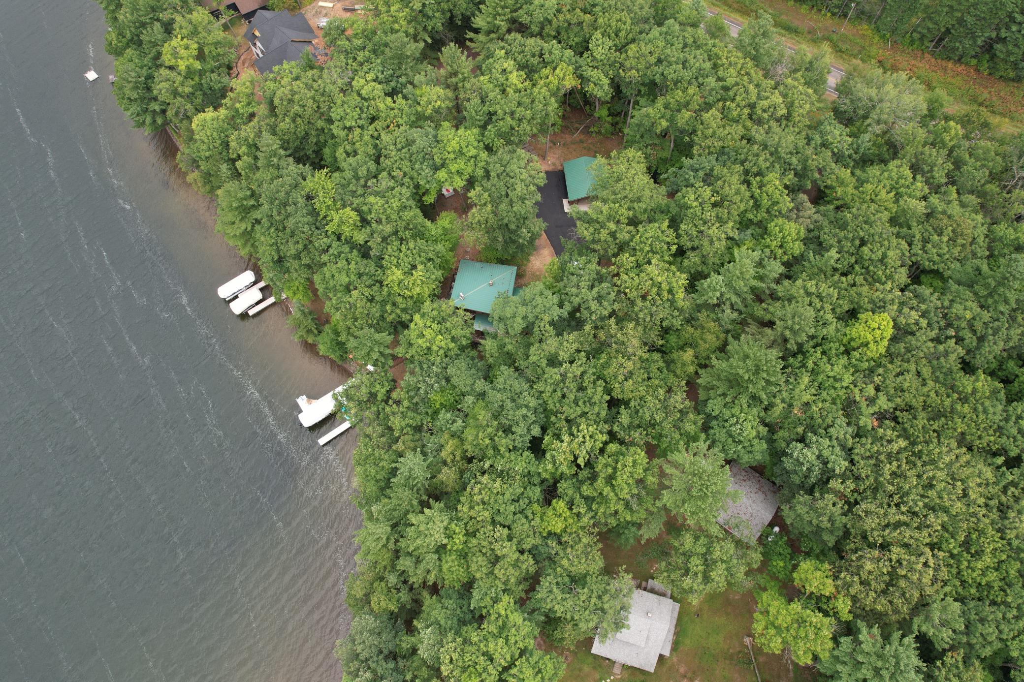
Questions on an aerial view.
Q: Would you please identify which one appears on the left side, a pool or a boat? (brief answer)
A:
boat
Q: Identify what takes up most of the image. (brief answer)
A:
trees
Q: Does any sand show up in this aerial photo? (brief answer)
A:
No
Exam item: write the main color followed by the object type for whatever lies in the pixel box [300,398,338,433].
white boat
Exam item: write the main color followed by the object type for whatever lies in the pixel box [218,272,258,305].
white boat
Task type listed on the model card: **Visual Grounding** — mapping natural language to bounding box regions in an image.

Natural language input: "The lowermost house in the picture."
[591,576,682,674]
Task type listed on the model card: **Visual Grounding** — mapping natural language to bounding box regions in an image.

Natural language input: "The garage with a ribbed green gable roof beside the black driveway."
[563,154,606,209]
